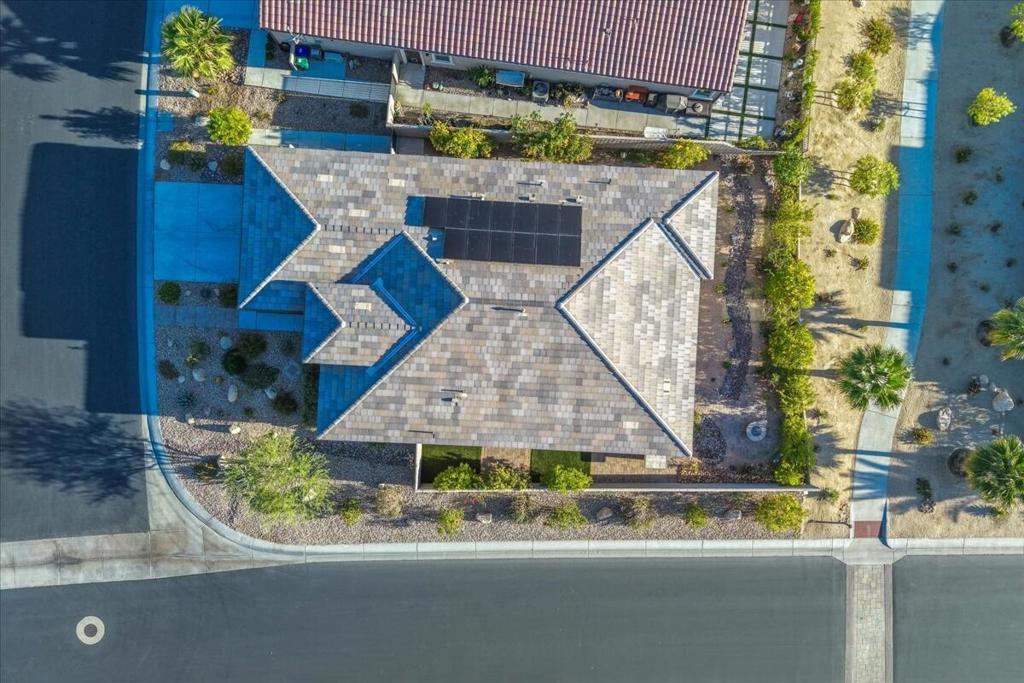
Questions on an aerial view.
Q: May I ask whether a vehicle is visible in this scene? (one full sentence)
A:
No, there isn't any vehicle down there.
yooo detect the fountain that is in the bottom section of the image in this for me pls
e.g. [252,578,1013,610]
[744,421,767,442]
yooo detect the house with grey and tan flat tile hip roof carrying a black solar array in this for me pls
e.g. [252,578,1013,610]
[237,145,720,459]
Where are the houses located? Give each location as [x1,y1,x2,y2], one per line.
[237,145,720,459]
[259,0,750,103]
